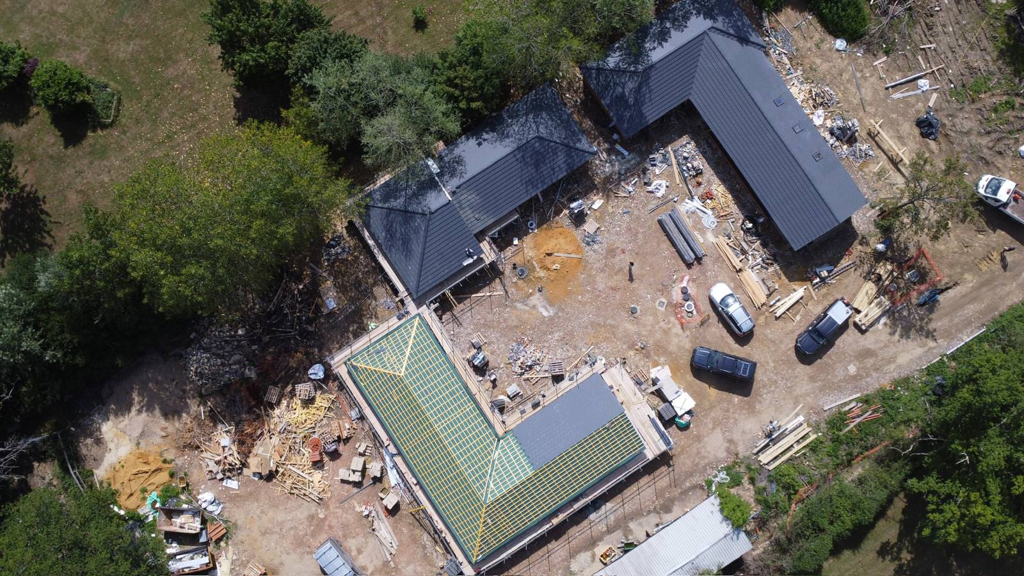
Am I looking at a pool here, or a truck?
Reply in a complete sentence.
There is a truck in the scene.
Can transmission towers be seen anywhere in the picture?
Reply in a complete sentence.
No, this view has no transmission tower in it.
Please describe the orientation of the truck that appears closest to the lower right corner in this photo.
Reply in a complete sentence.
The truck that appears closest to the lower right corner is oriented diagonally.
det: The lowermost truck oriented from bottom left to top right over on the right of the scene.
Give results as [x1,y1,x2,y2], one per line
[794,295,858,353]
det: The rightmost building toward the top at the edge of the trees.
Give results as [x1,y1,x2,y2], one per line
[579,0,868,250]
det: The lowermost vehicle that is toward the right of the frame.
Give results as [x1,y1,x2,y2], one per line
[688,348,759,384]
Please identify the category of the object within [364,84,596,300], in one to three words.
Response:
house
